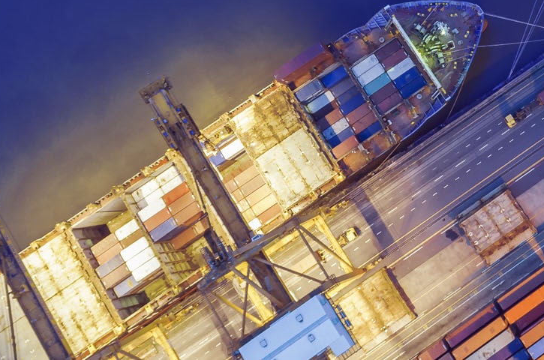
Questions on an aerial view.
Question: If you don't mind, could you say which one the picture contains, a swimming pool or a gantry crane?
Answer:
gantry crane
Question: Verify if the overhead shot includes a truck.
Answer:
Yes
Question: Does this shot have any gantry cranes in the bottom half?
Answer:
Yes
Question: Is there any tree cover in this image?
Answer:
No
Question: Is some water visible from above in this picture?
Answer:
Yes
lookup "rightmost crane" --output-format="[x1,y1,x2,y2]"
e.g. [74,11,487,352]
[135,73,404,360]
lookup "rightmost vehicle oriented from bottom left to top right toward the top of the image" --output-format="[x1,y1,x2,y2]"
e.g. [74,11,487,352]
[502,97,543,130]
